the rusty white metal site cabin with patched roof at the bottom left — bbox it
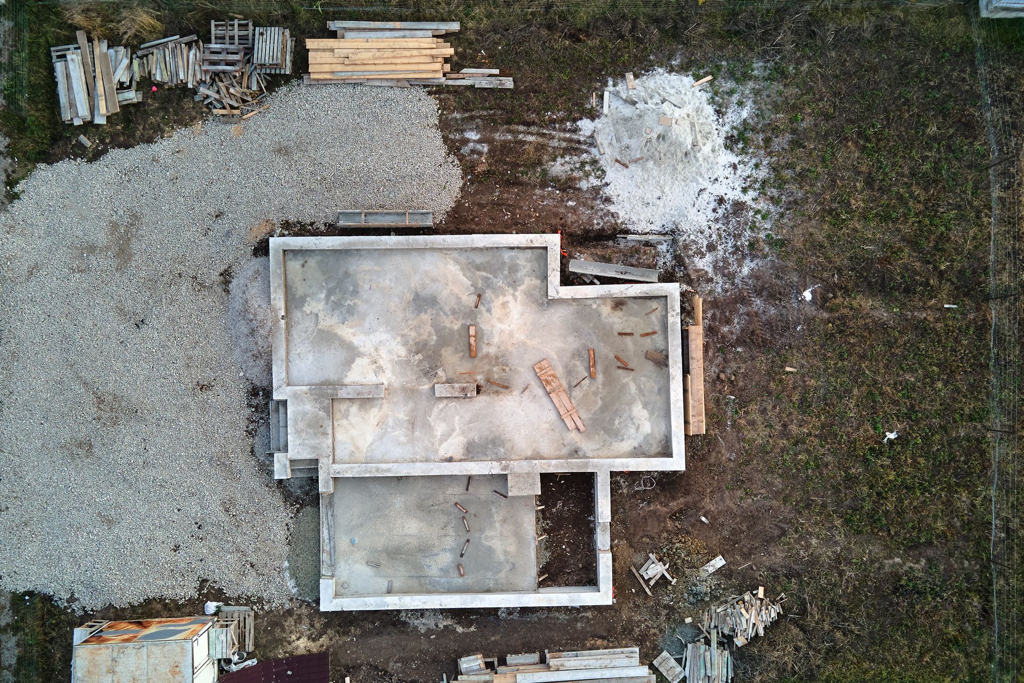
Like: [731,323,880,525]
[72,618,219,683]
